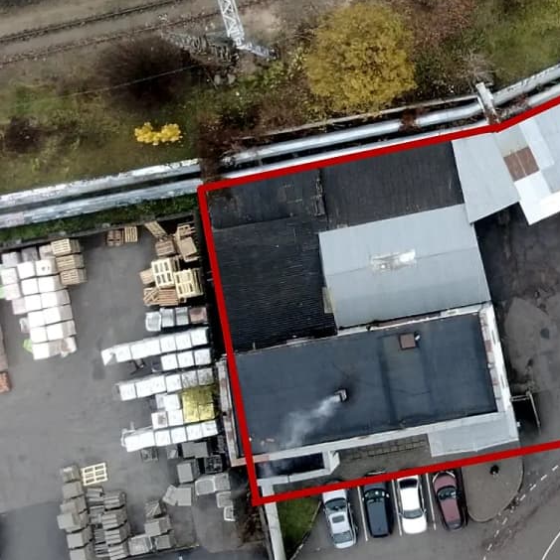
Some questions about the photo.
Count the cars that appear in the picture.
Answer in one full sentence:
In total, 4 cars can be seen.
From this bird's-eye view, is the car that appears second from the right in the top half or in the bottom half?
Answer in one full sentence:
It is in the bottom half that the car that appears second from the right appears.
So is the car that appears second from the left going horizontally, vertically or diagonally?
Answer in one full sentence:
The car that appears second from the left has been laid out vertically relative to the frame.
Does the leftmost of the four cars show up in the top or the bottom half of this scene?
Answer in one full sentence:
The leftmost of the four cars sits in the bottom half of the picture.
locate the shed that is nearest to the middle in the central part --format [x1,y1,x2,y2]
[207,165,339,352]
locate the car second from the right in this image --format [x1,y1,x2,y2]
[394,468,428,538]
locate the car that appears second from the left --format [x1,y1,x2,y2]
[358,473,393,542]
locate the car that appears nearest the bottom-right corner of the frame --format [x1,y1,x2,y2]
[430,469,467,536]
